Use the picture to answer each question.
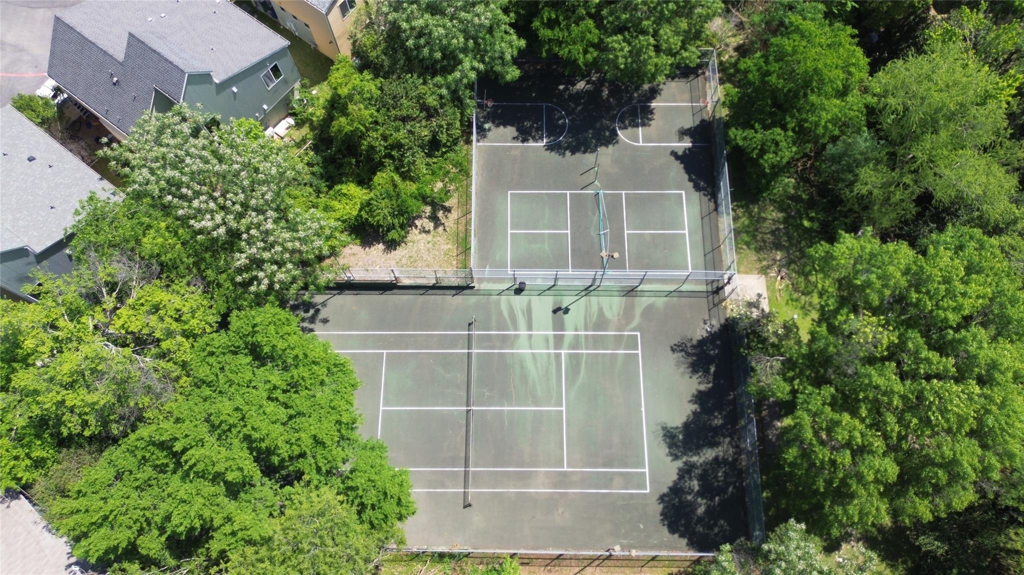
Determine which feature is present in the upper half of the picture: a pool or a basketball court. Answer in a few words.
basketball court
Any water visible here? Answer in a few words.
No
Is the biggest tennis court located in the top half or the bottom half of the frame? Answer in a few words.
bottom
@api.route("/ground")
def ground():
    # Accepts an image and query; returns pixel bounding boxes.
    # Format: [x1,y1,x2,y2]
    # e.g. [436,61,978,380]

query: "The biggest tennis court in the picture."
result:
[268,286,746,549]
